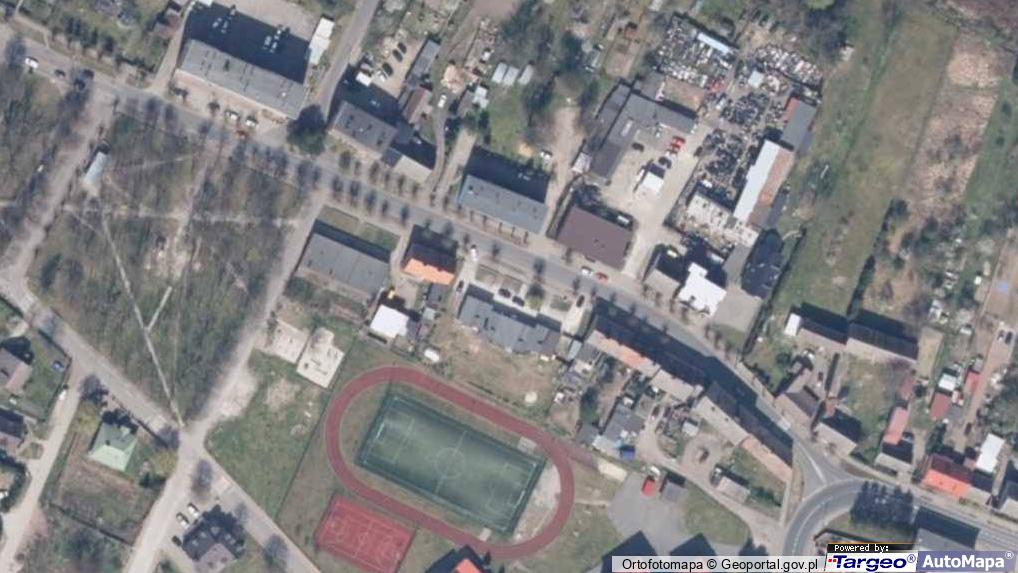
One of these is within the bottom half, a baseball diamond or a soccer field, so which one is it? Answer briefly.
soccer field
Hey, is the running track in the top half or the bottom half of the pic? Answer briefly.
bottom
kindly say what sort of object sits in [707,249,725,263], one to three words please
vehicle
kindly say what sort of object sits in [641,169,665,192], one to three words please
shed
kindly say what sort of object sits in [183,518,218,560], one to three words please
house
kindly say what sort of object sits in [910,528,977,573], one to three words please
building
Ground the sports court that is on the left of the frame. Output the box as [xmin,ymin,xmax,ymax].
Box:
[316,494,415,573]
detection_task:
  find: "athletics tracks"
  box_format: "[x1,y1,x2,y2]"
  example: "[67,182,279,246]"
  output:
[324,362,599,559]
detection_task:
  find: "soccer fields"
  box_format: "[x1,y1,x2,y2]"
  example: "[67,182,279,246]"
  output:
[356,389,546,533]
